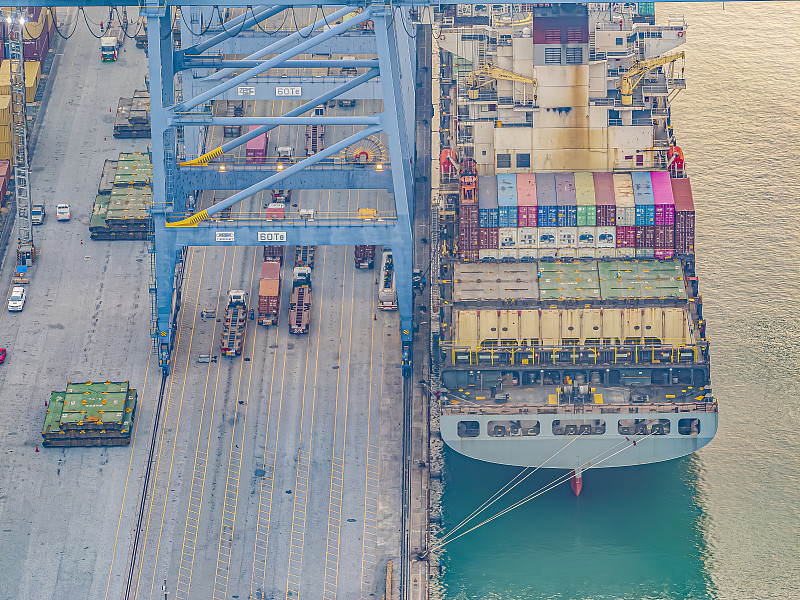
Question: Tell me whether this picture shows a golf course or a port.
port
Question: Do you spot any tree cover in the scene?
No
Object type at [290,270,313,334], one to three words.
truck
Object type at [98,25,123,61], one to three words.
truck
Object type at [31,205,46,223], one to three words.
car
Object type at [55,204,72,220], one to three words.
car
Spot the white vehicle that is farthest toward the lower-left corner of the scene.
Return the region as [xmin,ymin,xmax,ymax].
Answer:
[7,290,24,310]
